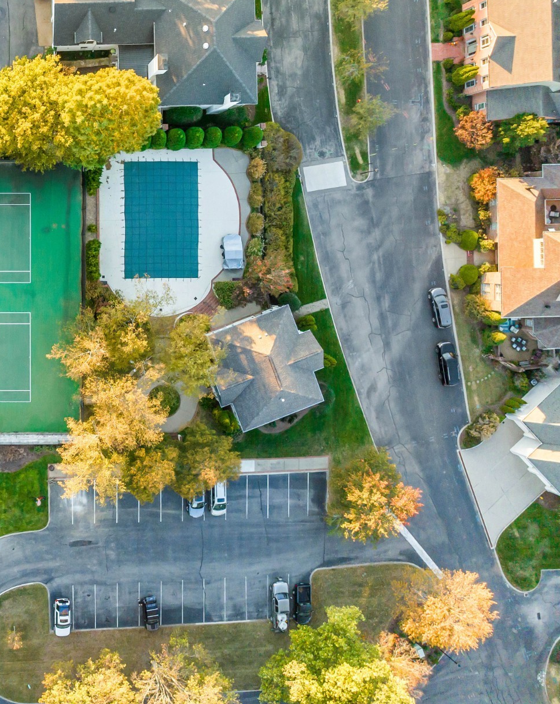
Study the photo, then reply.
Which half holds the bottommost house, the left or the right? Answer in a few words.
right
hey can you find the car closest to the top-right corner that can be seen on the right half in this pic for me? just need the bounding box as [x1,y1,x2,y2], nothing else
[429,288,456,329]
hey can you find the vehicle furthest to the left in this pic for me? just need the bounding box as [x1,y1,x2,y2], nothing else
[53,596,72,637]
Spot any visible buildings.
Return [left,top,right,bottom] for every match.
[204,302,325,433]
[52,0,268,116]
[456,0,560,122]
[464,163,560,350]
[499,377,560,499]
